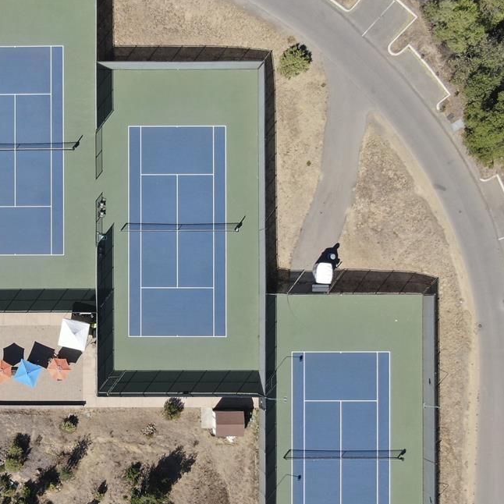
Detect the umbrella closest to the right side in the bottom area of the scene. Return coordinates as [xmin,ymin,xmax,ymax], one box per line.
[47,358,71,379]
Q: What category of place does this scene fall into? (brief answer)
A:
sports ground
